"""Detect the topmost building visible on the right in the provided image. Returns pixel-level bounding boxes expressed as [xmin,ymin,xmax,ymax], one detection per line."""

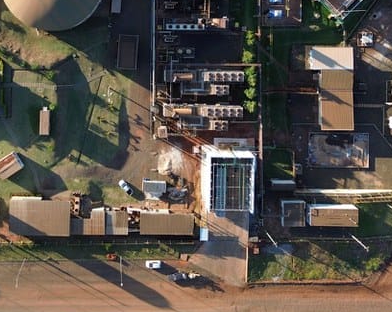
[305,46,355,70]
